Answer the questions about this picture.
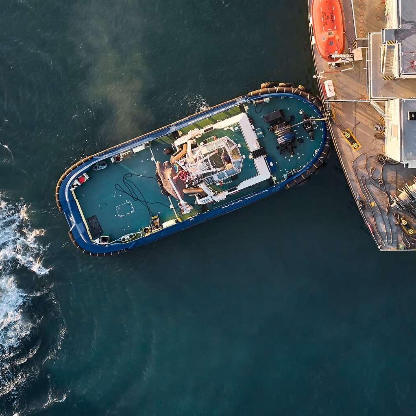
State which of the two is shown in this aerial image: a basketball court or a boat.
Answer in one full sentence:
There is a boat in the scene.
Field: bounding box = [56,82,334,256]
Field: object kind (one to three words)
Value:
boat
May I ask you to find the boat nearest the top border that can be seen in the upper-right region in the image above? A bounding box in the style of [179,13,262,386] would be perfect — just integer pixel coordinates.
[310,0,347,63]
